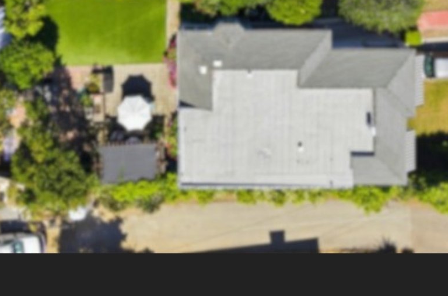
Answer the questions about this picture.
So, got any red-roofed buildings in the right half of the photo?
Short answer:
No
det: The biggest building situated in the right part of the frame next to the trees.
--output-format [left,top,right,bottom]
[178,20,423,190]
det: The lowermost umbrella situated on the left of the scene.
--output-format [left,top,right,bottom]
[118,96,152,129]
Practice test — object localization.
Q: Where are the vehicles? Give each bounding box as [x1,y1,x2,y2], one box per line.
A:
[0,216,42,254]
[416,52,448,84]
